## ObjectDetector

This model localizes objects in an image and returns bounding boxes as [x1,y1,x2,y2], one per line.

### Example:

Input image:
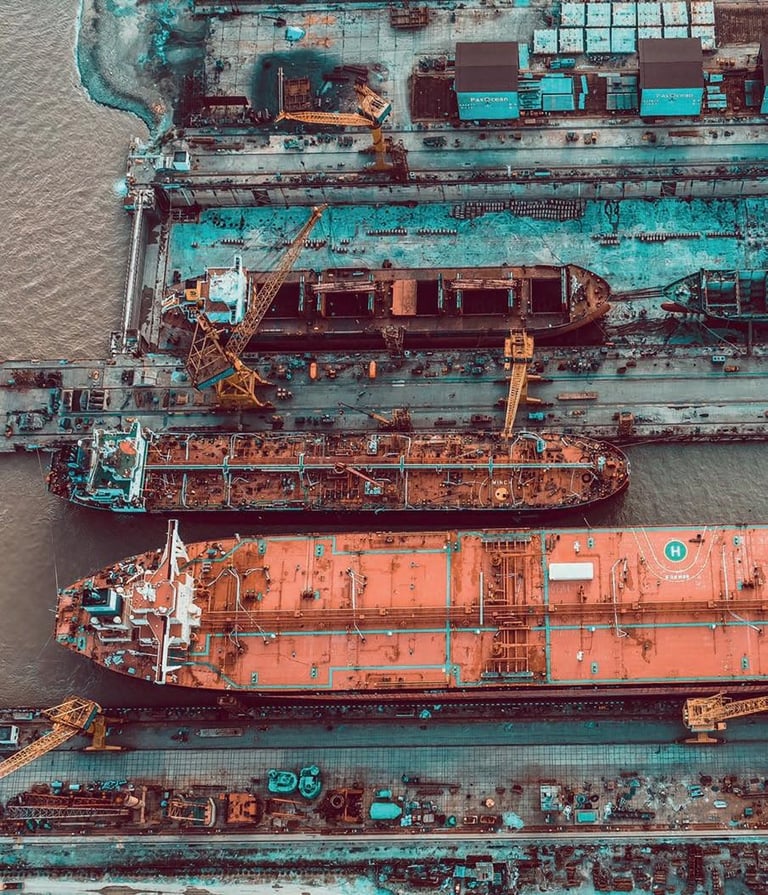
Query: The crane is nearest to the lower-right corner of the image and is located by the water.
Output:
[680,688,768,742]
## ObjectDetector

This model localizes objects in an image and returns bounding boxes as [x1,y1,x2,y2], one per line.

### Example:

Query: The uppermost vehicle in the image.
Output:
[262,15,289,30]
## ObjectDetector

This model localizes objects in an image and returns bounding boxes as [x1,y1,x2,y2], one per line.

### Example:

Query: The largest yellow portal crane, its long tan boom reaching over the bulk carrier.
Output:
[190,201,328,413]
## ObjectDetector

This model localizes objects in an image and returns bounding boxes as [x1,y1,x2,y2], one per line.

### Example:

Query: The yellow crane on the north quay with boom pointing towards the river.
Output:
[273,77,399,167]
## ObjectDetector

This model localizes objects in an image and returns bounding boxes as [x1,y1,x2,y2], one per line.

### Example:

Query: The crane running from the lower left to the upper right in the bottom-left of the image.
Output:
[0,676,125,780]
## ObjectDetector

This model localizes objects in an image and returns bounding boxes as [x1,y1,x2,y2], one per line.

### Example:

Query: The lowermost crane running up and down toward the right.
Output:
[502,323,541,441]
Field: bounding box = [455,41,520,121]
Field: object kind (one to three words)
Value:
shed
